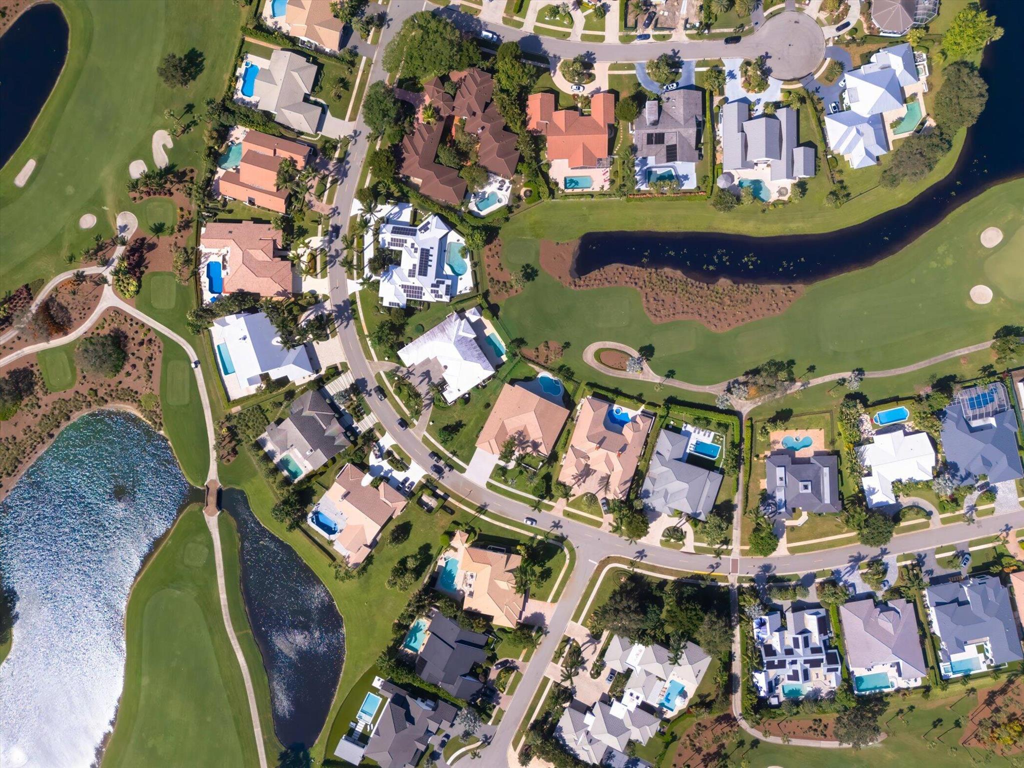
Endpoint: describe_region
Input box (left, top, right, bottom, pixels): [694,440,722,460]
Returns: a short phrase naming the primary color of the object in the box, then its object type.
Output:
blue swimming pool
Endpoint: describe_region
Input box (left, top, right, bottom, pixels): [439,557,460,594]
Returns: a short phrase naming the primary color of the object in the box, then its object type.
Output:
blue swimming pool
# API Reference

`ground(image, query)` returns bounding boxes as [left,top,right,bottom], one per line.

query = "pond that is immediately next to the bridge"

[218,487,345,748]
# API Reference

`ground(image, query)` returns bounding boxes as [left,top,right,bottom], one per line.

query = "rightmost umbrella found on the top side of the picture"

[717,172,734,189]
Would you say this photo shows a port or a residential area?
residential area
